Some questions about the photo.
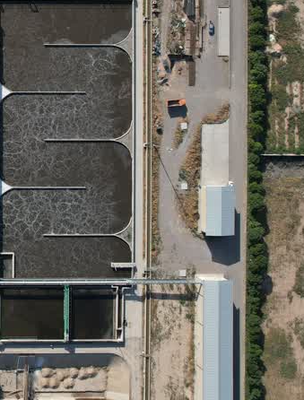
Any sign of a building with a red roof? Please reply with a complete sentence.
No, no building with a red roof is visible in the view.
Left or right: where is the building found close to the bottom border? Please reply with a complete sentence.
You can find the building found close to the bottom border on the right side of the picture.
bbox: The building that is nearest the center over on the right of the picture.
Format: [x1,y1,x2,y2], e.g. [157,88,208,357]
[194,183,236,238]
